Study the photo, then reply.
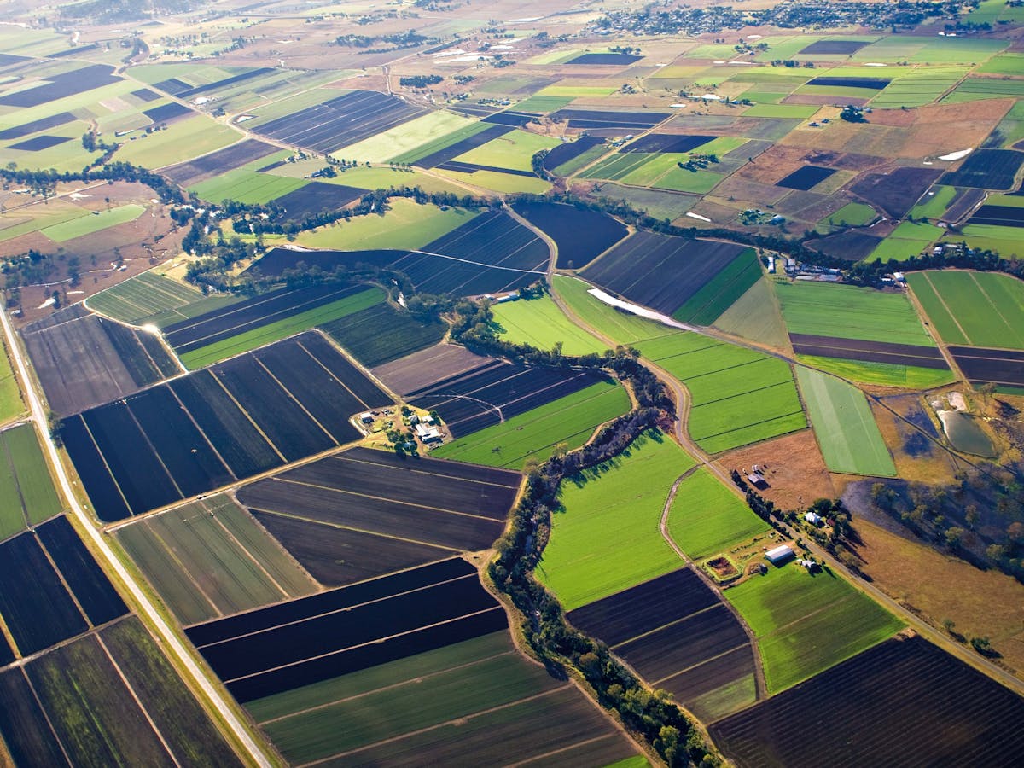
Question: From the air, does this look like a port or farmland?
farmland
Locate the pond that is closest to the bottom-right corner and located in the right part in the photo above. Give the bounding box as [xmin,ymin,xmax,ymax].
[937,410,996,456]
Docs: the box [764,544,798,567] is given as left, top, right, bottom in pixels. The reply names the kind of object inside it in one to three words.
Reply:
shed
